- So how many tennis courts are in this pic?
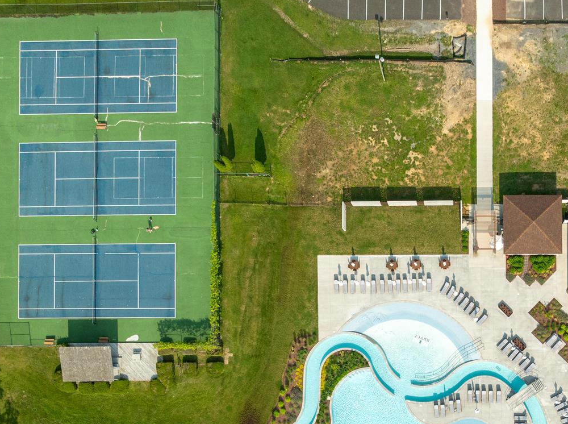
3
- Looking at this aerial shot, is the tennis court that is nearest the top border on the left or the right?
left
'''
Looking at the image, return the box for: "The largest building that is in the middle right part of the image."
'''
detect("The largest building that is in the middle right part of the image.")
[501,194,562,255]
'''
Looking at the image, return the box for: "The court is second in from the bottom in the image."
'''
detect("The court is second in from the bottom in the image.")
[18,132,176,221]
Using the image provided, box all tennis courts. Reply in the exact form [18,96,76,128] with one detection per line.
[18,132,176,221]
[19,28,177,117]
[18,235,176,324]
